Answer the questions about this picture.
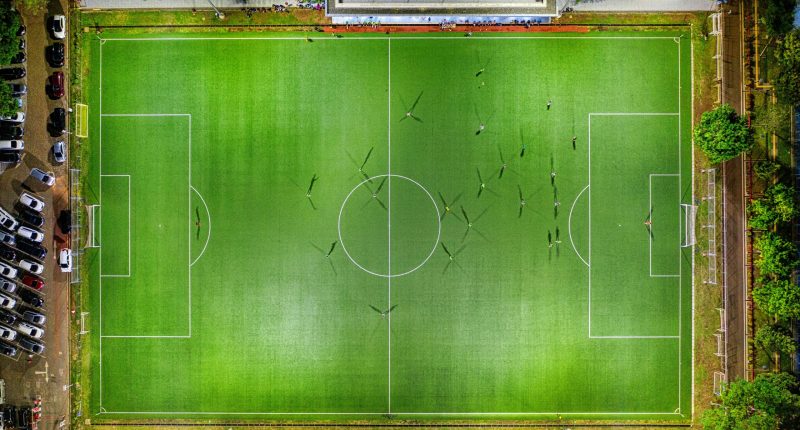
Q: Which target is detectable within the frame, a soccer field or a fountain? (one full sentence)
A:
Of the two, only a soccer field appears.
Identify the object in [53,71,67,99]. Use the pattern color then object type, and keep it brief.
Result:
red car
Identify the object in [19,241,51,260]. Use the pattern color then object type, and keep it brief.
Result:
black vehicle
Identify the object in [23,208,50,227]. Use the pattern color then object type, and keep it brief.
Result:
black car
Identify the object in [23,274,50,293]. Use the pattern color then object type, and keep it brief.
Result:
red car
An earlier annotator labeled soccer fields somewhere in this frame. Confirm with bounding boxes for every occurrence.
[90,30,693,419]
